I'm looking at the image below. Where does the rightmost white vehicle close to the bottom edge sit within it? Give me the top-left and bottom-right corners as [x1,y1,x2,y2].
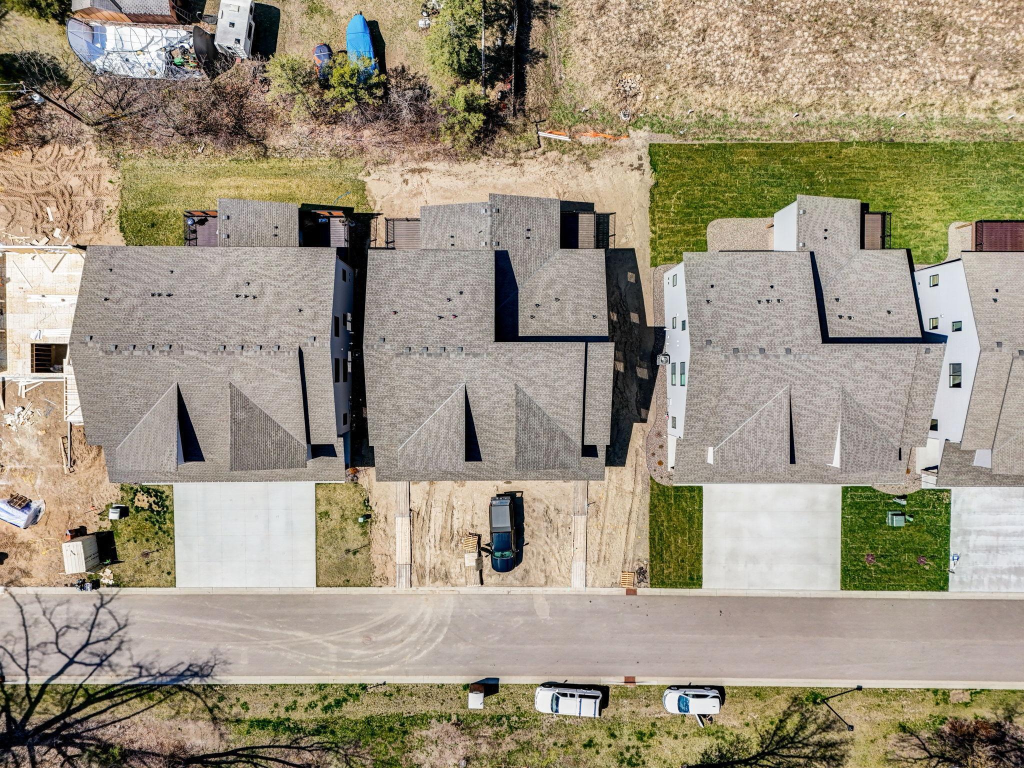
[667,690,722,730]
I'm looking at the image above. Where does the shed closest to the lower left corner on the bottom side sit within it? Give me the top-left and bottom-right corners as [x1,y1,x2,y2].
[61,535,99,575]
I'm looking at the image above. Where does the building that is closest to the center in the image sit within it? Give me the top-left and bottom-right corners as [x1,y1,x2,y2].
[363,193,615,482]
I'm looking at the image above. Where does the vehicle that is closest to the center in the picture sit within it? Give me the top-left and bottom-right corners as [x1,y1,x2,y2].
[478,493,519,573]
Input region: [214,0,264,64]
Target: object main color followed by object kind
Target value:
white camper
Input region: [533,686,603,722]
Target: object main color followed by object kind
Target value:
white truck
